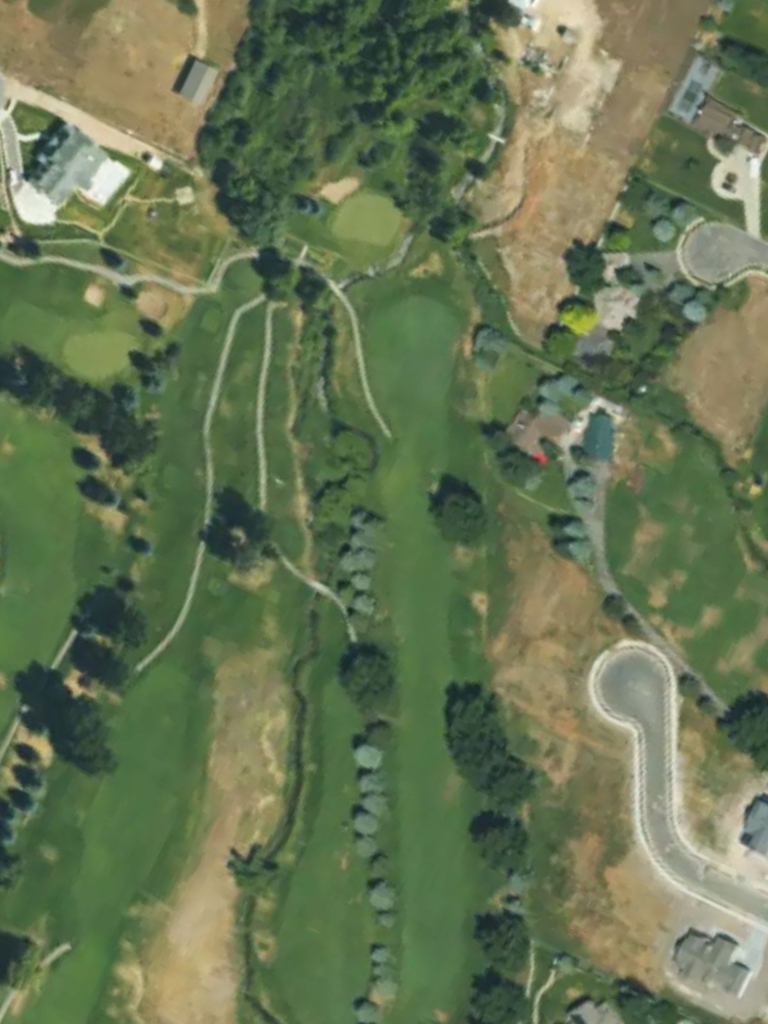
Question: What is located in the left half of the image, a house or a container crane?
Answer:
house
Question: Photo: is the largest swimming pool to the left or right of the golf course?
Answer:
to its right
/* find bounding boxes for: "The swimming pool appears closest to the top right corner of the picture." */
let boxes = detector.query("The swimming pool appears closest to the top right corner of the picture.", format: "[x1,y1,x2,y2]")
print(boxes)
[566,398,627,463]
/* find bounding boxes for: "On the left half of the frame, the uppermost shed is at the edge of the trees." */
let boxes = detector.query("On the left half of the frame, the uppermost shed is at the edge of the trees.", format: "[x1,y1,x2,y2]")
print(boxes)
[181,57,219,103]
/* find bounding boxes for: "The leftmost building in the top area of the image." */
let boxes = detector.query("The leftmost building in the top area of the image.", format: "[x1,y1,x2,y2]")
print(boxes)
[32,122,131,205]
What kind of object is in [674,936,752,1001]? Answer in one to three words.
house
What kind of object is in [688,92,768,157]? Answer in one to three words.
house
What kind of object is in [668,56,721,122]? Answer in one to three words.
shed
